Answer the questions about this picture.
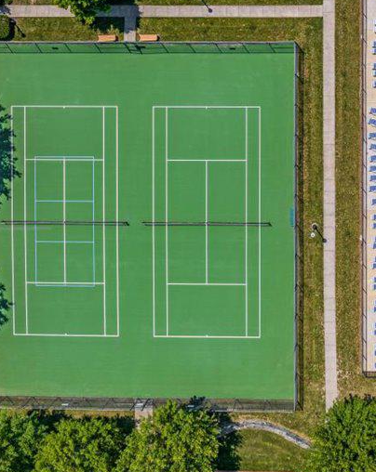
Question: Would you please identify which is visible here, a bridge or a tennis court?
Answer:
tennis court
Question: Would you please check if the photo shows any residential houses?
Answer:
No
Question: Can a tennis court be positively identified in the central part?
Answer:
Yes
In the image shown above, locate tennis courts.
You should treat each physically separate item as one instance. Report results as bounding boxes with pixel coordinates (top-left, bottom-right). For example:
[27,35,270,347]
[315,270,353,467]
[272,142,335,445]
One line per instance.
[135,44,296,399]
[0,44,135,399]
